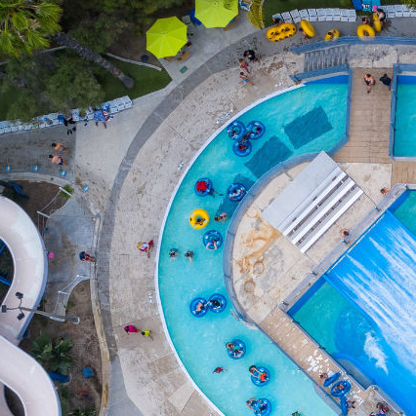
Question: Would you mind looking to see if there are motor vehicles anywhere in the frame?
No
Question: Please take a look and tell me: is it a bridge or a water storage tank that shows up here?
bridge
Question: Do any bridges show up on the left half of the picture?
No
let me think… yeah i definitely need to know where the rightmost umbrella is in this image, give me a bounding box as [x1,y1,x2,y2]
[198,0,242,30]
